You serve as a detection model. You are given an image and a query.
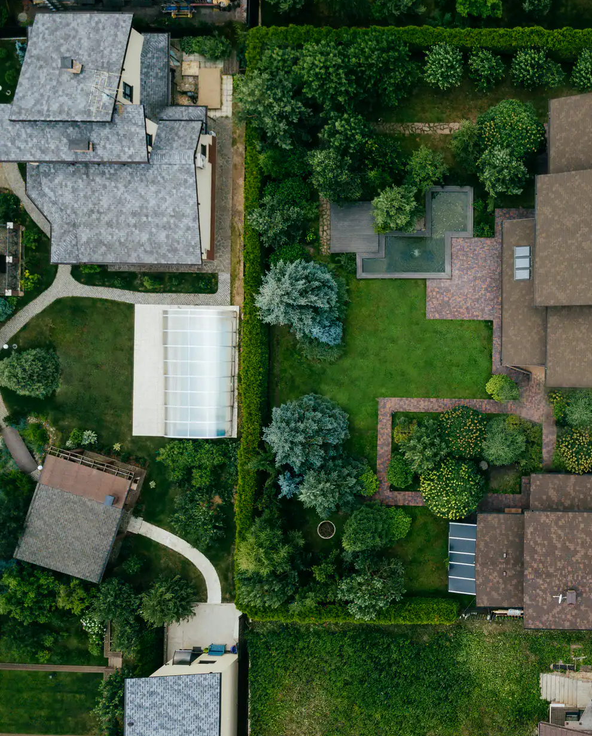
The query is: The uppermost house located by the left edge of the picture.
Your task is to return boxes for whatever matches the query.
[0,12,220,266]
